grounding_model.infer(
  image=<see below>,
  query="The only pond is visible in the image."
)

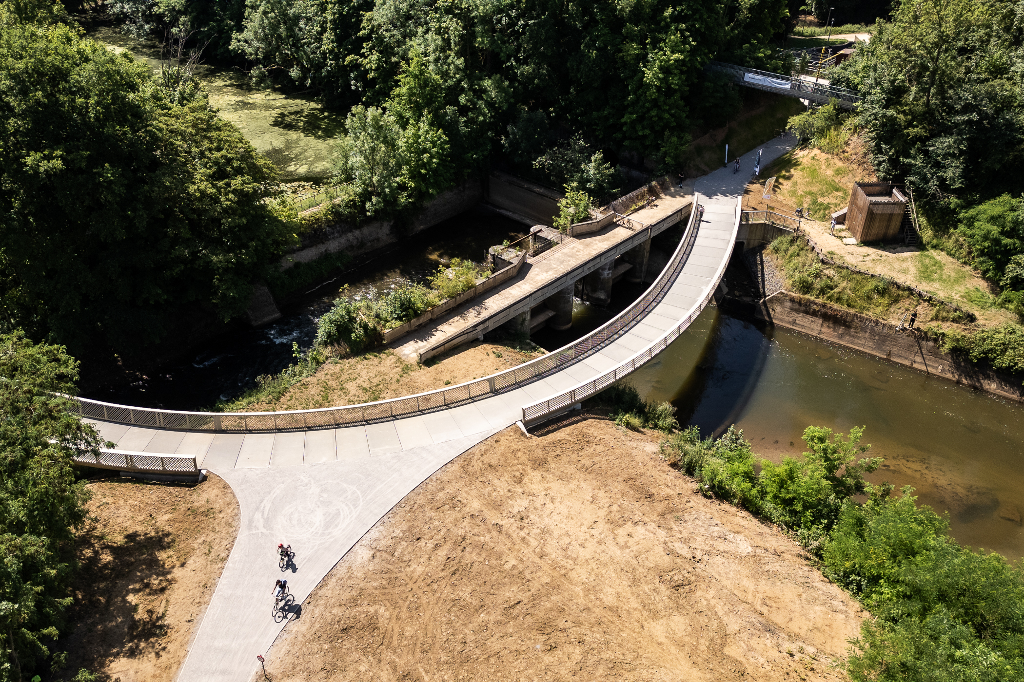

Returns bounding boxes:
[92,26,366,201]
